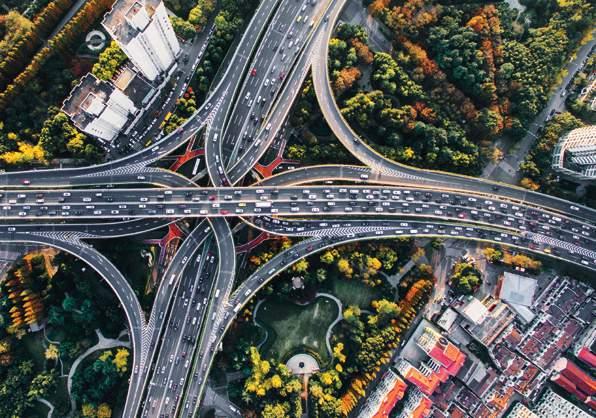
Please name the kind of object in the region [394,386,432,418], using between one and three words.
building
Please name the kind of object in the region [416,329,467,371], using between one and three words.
building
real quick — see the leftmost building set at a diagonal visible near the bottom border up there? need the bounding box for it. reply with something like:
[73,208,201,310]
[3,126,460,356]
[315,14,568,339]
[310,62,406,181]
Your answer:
[361,368,409,418]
